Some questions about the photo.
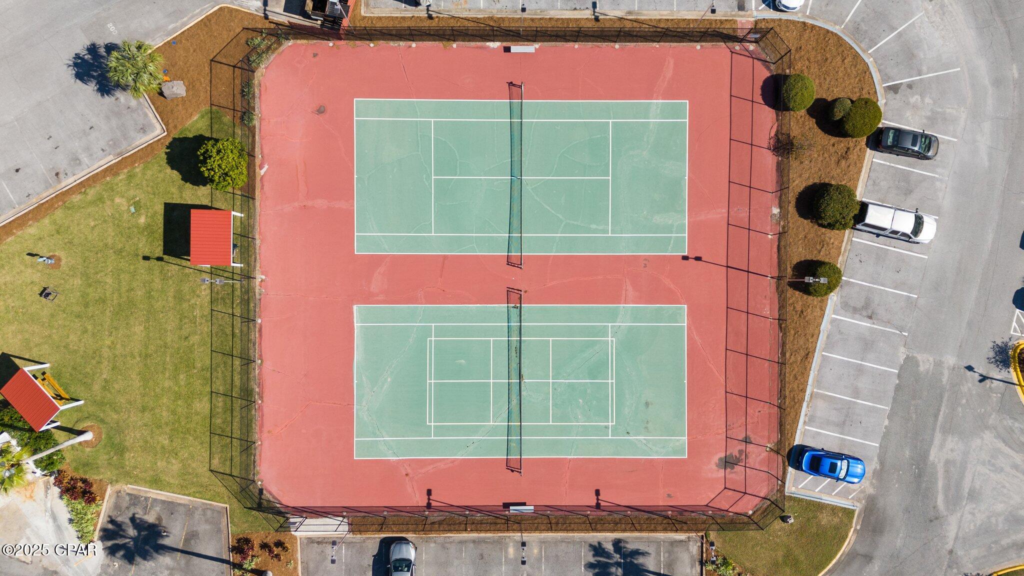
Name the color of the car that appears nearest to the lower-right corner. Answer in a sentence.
The car that appears nearest to the lower-right corner looks blue in the image.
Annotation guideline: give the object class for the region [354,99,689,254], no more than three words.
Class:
tennis court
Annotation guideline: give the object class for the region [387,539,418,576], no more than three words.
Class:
car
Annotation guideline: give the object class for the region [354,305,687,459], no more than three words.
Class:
tennis court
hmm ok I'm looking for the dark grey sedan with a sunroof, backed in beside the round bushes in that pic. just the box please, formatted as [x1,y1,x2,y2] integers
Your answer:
[874,125,939,161]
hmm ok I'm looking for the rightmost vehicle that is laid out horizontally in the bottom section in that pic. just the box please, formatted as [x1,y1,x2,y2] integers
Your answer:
[797,445,864,484]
